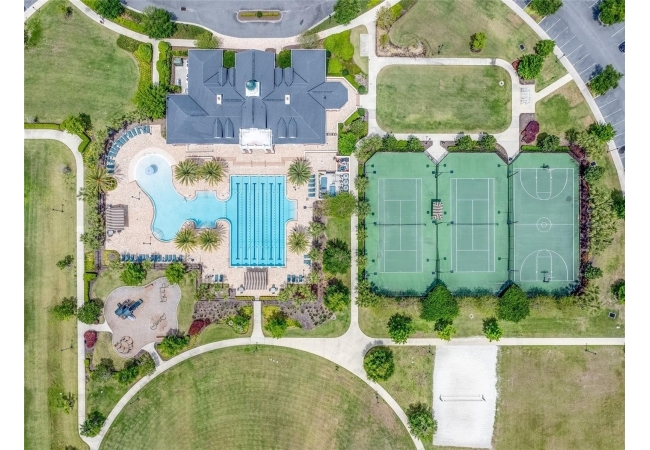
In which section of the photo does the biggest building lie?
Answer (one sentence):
Look in the top portion of the view to spot the biggest building.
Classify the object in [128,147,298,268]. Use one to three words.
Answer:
swimming pool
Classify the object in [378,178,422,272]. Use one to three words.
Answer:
tennis court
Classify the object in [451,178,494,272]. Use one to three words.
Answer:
tennis court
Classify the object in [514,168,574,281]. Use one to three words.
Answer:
basketball court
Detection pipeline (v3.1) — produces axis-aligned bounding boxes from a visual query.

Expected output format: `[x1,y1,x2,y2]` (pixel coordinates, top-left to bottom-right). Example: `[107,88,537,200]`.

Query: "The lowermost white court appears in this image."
[433,345,498,448]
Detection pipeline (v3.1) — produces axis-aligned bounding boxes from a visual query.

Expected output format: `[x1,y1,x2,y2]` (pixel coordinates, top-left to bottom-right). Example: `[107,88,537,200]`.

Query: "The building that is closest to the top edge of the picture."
[166,46,348,152]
